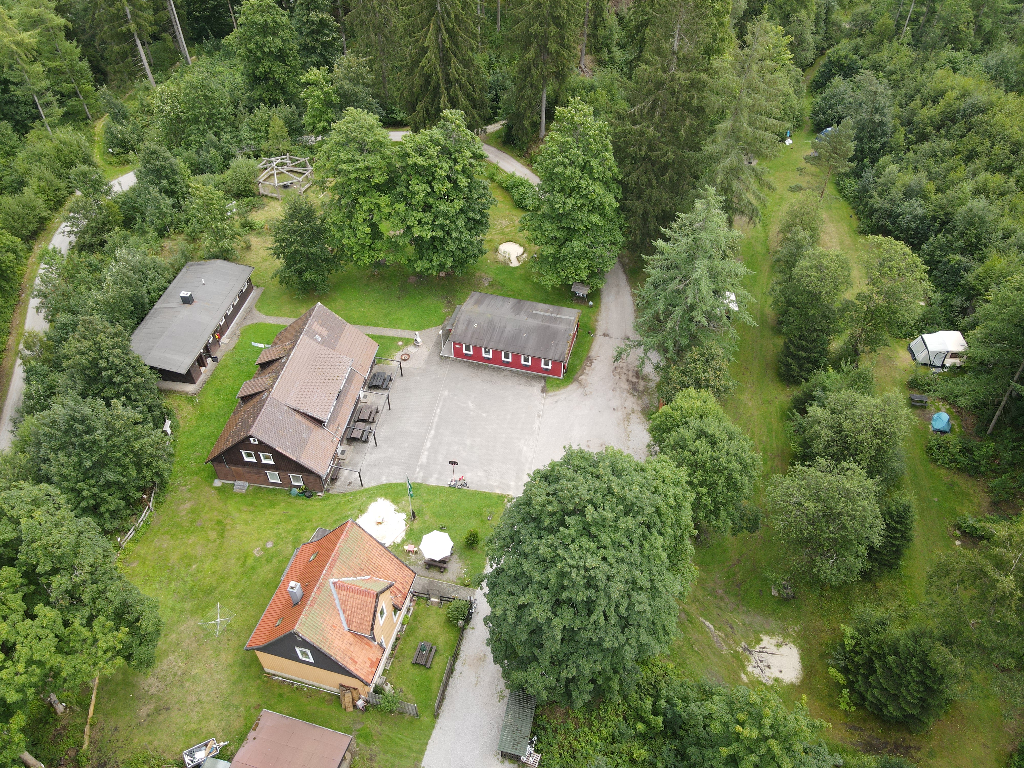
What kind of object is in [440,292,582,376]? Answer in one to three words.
house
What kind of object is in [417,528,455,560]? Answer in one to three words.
umbrella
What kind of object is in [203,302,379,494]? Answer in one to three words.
house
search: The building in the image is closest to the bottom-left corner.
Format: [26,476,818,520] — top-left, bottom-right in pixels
[230,708,353,768]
